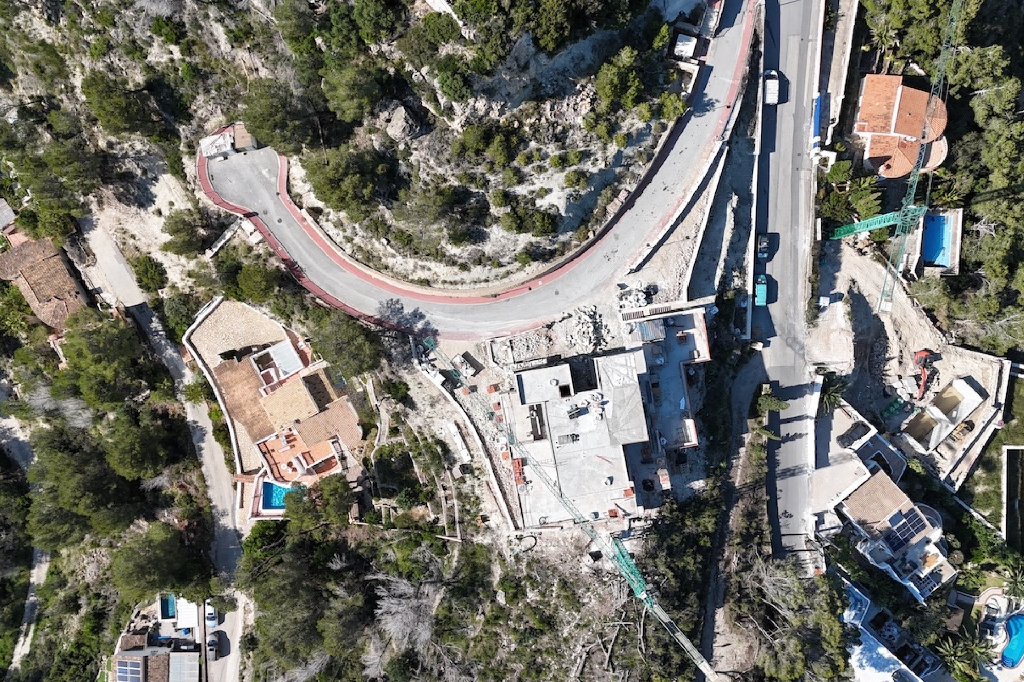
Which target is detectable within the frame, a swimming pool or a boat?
swimming pool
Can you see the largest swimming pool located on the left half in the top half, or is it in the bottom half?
bottom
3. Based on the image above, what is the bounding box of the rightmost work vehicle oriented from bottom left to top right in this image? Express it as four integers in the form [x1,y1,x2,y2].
[949,421,973,442]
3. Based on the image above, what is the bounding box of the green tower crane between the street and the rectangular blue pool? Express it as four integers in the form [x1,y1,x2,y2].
[821,0,966,306]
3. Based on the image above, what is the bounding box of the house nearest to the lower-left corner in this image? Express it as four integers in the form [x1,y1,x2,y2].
[108,628,202,682]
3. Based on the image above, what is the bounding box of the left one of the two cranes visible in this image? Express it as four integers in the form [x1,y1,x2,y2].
[422,338,721,682]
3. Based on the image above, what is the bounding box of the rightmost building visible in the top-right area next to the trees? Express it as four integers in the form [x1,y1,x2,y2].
[847,74,948,181]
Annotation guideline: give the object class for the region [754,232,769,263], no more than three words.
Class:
vehicle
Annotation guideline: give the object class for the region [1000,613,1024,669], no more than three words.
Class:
swimming pool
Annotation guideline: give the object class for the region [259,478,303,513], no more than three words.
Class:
swimming pool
